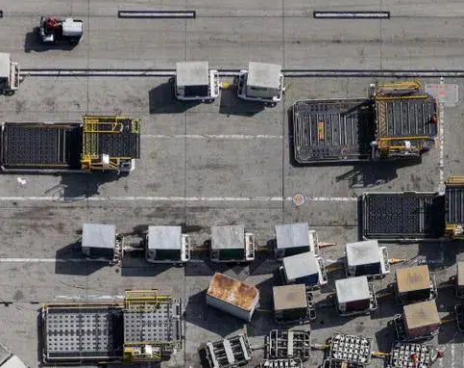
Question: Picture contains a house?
No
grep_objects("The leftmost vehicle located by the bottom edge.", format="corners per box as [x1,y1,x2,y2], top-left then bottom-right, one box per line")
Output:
[42,296,182,368]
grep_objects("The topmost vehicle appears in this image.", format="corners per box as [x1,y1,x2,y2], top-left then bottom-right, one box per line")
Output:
[39,21,83,48]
